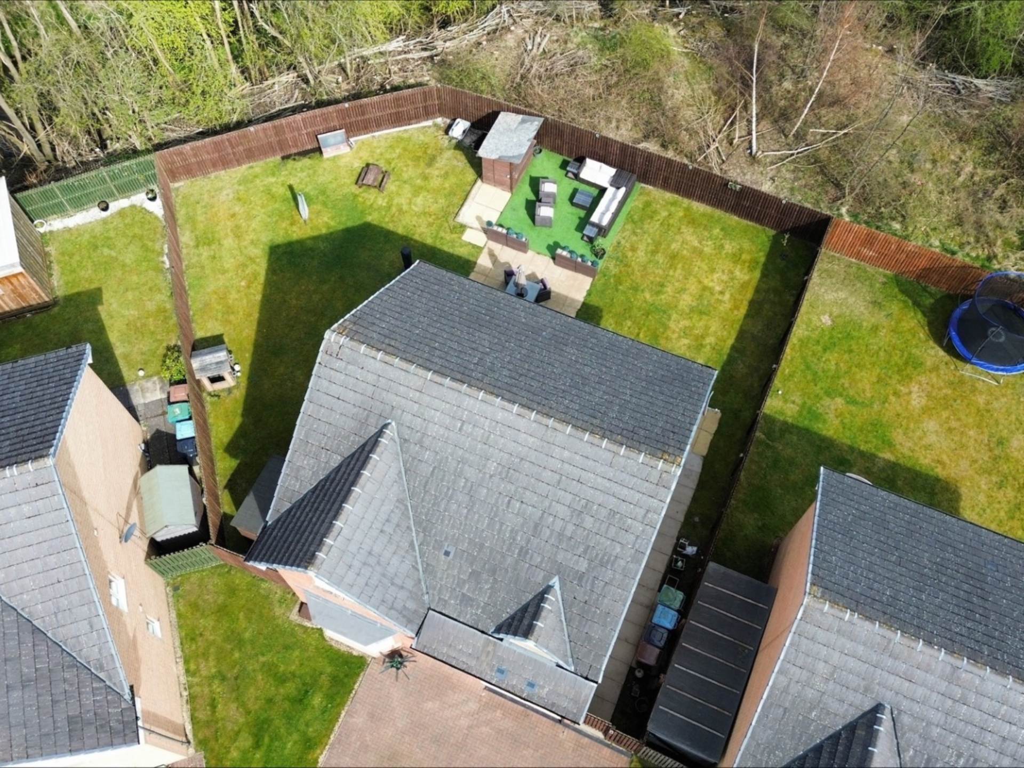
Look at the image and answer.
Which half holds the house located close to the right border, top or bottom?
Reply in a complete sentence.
It is in the bottom half that the house located close to the right border appears.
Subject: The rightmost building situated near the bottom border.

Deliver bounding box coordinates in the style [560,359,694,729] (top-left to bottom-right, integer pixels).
[721,465,1024,768]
